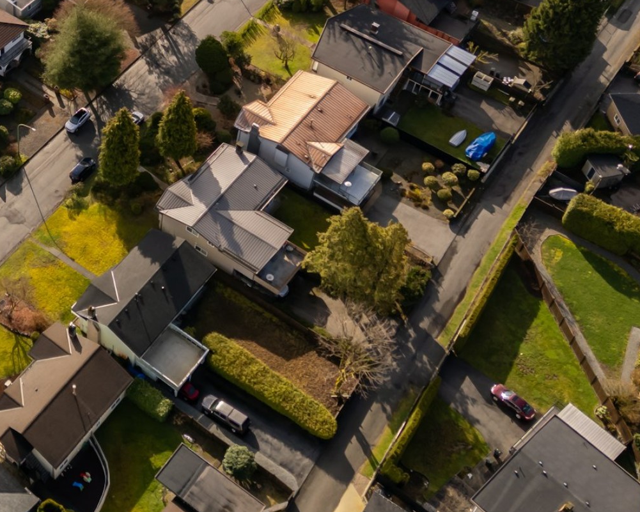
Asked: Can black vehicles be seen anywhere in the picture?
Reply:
Yes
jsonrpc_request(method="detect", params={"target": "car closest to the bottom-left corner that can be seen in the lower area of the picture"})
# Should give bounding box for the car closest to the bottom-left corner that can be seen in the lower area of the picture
[164,378,205,403]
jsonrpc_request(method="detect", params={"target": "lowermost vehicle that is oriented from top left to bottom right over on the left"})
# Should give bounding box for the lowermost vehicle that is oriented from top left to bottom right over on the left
[201,398,250,436]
